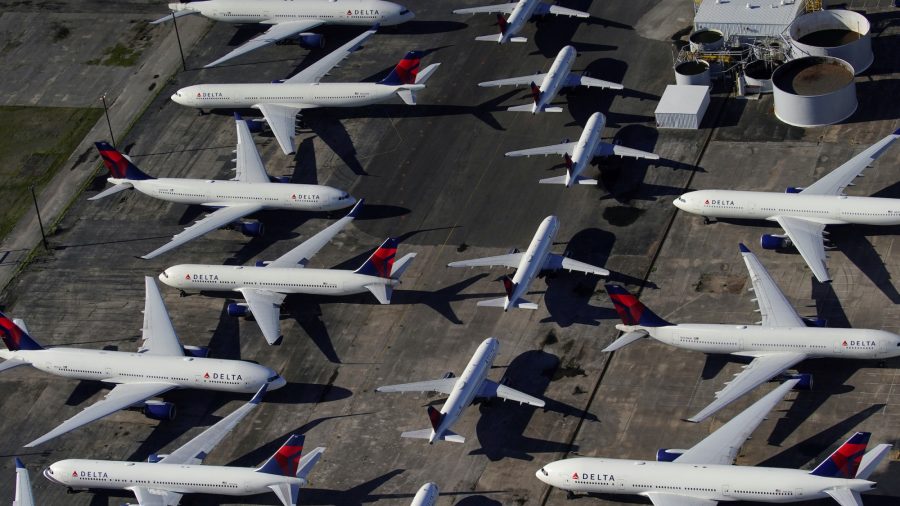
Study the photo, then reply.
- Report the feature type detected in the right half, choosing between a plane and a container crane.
plane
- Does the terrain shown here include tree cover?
No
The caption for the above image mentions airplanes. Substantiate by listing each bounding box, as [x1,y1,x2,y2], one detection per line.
[675,129,900,281]
[475,45,624,115]
[43,382,326,506]
[451,0,592,45]
[150,0,416,67]
[159,199,417,344]
[0,277,287,449]
[89,111,356,258]
[12,456,34,506]
[503,112,660,187]
[535,376,891,506]
[171,20,439,154]
[446,216,610,312]
[603,242,900,422]
[405,483,434,506]
[375,337,547,445]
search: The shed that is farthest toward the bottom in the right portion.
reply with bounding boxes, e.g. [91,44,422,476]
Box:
[654,84,710,129]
